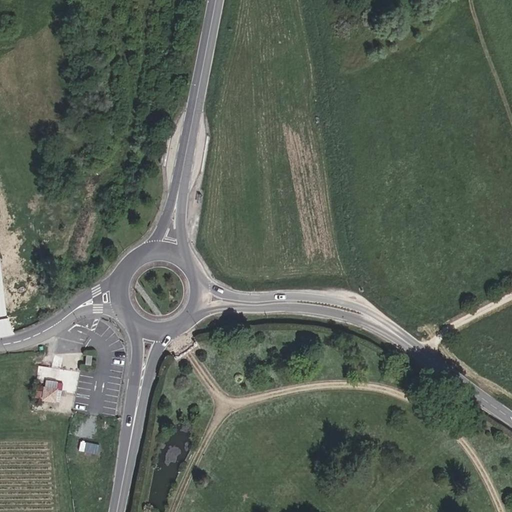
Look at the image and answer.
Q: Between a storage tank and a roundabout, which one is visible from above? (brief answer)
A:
roundabout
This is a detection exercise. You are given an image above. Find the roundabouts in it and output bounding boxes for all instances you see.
[112,244,208,338]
